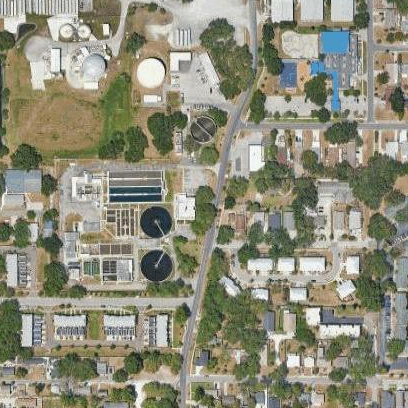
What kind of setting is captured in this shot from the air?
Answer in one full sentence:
This looks like a residential area.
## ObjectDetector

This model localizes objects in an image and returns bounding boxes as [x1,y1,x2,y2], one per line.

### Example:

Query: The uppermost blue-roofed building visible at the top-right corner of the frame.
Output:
[322,32,350,52]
